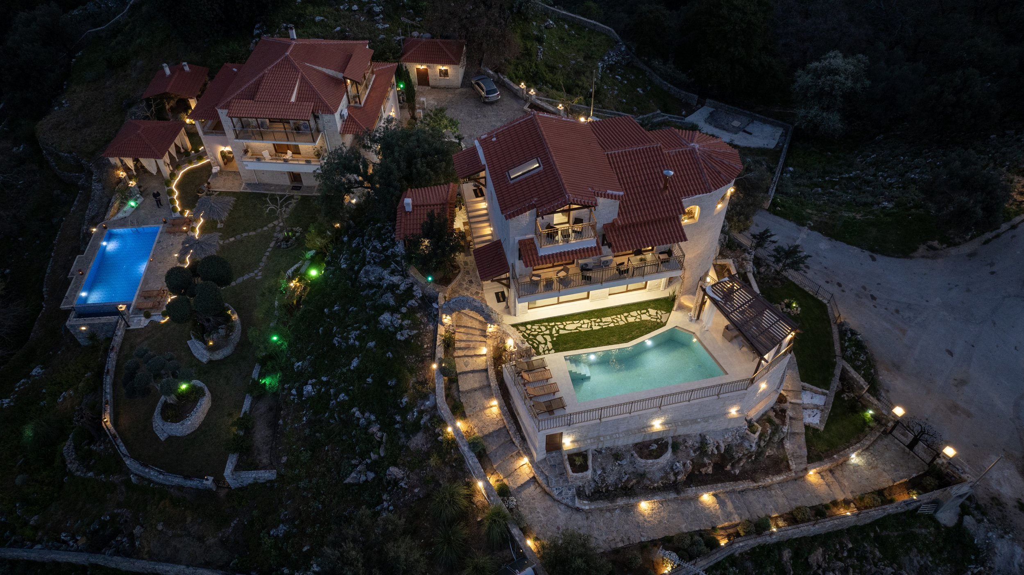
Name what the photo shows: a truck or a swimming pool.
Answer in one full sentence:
The one in the frame is a swimming pool.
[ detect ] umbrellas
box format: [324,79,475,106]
[194,199,236,227]
[176,236,220,265]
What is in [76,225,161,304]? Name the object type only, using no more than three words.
swimming pool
